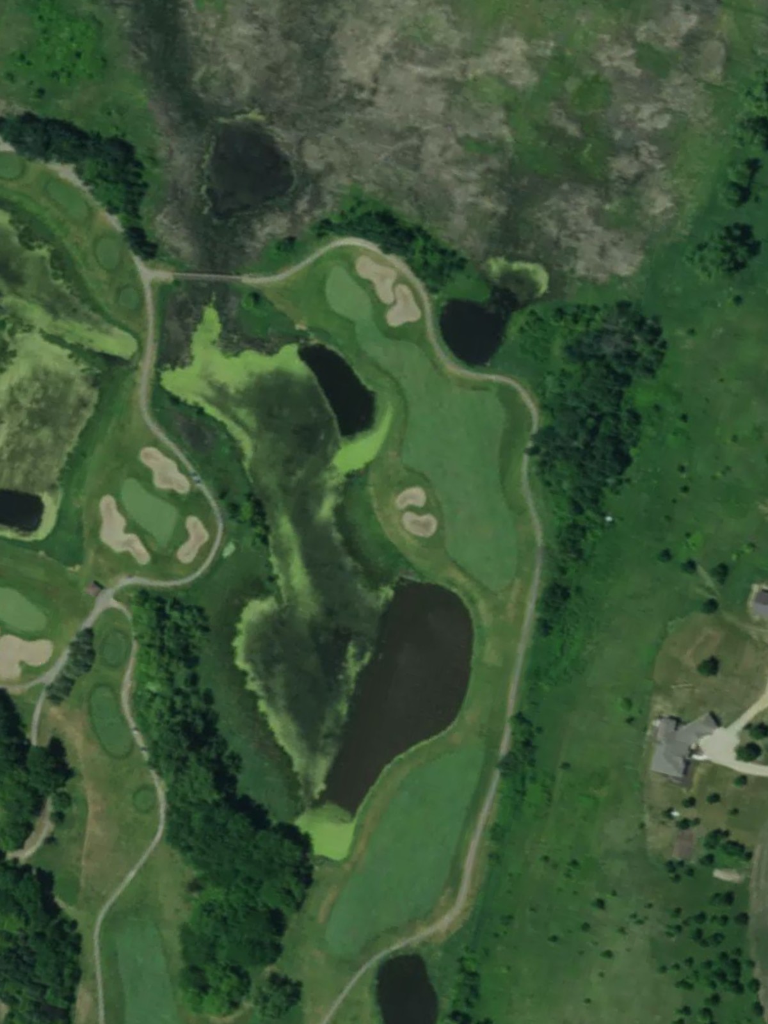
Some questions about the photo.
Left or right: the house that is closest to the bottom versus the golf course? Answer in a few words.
to its right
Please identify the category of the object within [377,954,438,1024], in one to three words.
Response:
pond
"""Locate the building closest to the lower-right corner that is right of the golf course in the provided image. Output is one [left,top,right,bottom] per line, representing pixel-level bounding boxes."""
[650,714,717,787]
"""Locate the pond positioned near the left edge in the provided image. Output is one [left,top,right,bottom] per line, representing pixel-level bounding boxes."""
[0,448,74,542]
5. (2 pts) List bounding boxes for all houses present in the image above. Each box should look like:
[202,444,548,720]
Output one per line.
[650,714,717,787]
[752,589,768,619]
